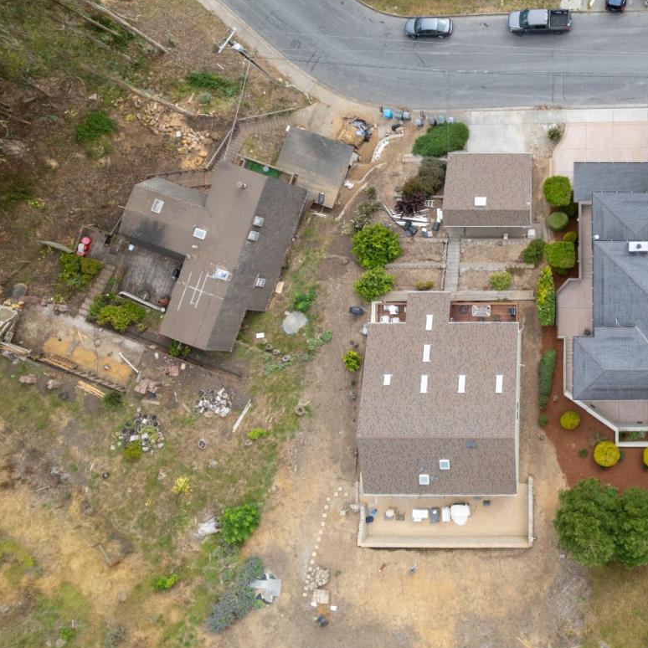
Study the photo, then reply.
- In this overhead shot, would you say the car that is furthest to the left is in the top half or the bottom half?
top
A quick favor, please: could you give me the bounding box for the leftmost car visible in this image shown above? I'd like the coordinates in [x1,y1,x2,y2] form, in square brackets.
[404,13,452,38]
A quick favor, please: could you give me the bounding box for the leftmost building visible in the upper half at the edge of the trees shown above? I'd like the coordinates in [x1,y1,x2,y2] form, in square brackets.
[82,160,313,351]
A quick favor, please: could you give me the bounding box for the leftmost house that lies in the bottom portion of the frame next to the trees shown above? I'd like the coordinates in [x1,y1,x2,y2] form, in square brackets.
[357,292,521,498]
